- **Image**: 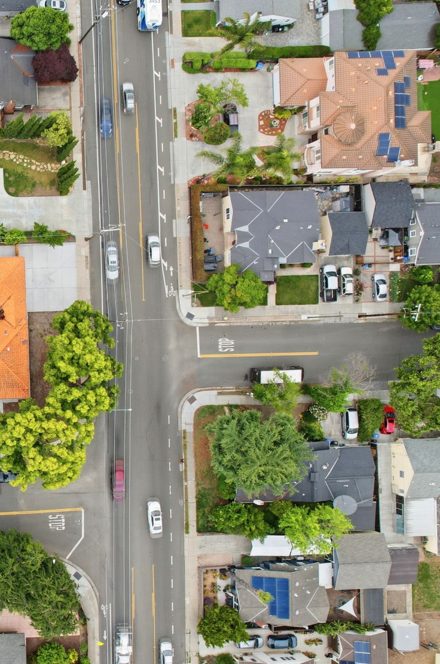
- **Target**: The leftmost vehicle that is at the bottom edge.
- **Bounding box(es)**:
[115,626,134,664]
